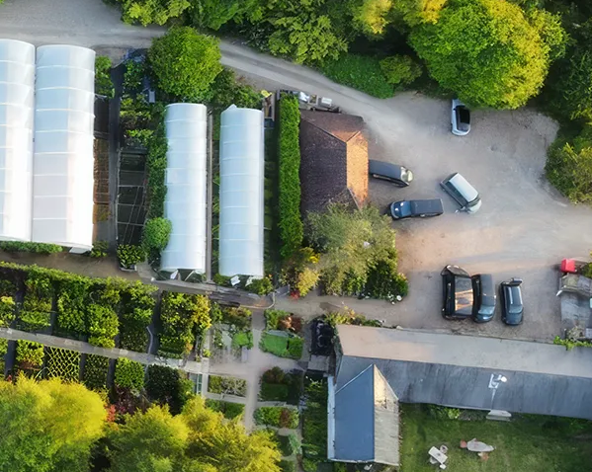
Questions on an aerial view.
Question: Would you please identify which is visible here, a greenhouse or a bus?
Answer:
greenhouse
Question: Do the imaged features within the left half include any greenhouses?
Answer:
Yes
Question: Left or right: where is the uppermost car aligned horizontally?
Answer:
right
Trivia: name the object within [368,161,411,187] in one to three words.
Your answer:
car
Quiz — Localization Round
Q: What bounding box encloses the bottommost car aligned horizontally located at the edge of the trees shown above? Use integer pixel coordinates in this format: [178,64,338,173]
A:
[388,199,443,220]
